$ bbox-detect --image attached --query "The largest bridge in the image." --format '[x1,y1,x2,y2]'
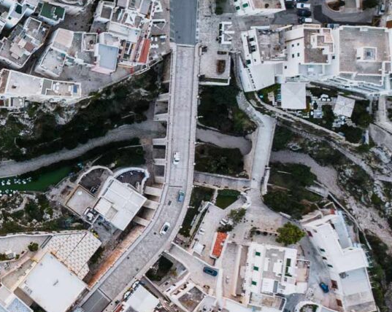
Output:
[93,45,203,301]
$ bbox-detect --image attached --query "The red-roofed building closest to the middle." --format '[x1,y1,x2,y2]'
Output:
[206,231,229,257]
